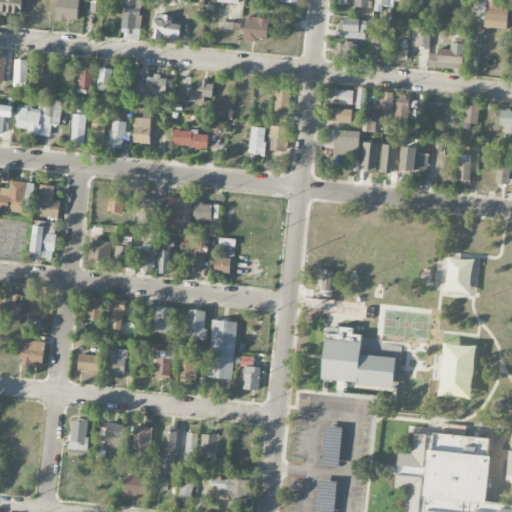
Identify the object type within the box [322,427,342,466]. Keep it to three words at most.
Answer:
solar array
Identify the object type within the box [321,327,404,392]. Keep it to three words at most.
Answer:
building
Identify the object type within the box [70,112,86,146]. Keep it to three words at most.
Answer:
house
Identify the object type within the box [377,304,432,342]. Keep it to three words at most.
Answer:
basketball court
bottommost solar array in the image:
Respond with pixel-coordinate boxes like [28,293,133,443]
[316,482,338,512]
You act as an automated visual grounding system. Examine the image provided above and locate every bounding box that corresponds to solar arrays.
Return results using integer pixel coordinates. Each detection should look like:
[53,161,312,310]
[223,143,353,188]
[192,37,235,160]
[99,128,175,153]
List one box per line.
[316,482,338,512]
[322,427,342,466]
